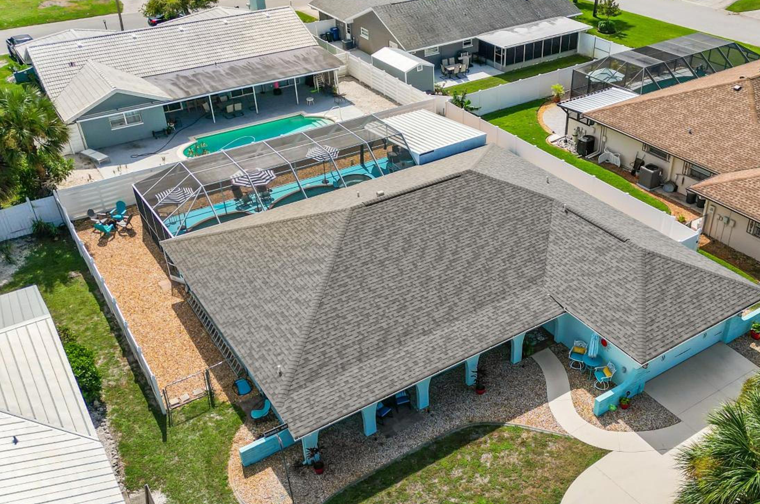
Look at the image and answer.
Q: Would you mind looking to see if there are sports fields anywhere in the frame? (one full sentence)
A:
No, the picture doesn't show any sports field.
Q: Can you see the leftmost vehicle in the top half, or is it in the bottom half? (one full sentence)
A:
Seen from above, the leftmost vehicle lies in the top half of the view.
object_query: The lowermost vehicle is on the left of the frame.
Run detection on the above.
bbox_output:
[1,28,27,55]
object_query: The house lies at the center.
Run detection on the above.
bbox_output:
[161,133,760,466]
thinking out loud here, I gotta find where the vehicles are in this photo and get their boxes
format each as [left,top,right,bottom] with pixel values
[1,28,27,55]
[143,6,191,24]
